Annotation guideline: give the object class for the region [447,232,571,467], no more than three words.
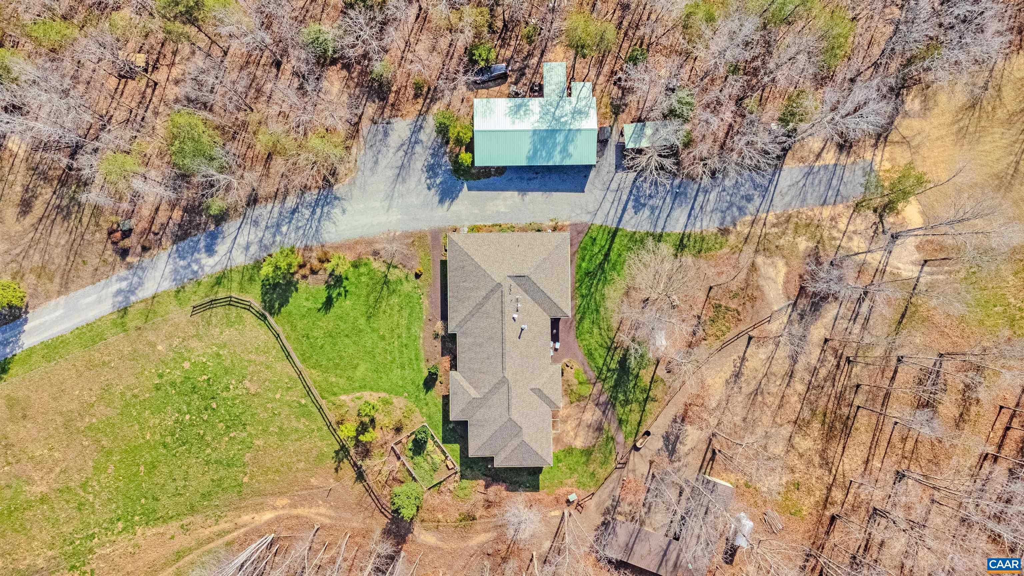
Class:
house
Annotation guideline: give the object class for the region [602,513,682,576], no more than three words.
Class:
barn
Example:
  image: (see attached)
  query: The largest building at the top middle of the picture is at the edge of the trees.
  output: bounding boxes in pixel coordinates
[473,98,598,169]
